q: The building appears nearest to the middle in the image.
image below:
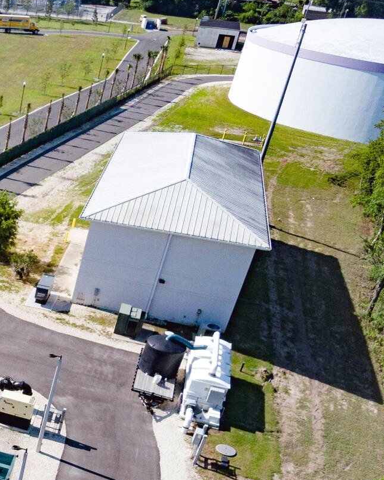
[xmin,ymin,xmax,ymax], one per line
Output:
[69,130,273,334]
